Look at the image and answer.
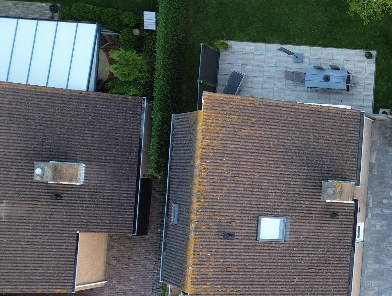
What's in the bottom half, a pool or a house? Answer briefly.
house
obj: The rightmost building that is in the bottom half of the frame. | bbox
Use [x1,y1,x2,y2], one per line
[159,91,373,296]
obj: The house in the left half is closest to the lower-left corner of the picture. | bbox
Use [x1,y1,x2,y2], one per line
[0,82,153,294]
